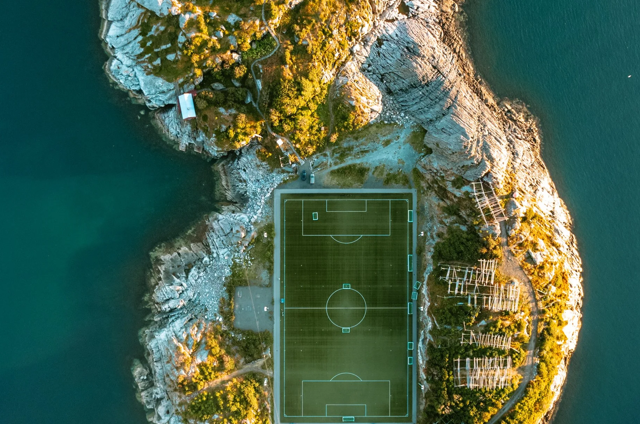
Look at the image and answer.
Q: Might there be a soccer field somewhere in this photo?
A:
Yes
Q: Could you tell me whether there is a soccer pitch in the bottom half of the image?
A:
Yes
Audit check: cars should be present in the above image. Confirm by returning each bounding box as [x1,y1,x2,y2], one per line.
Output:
[301,170,307,180]
[310,173,315,184]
